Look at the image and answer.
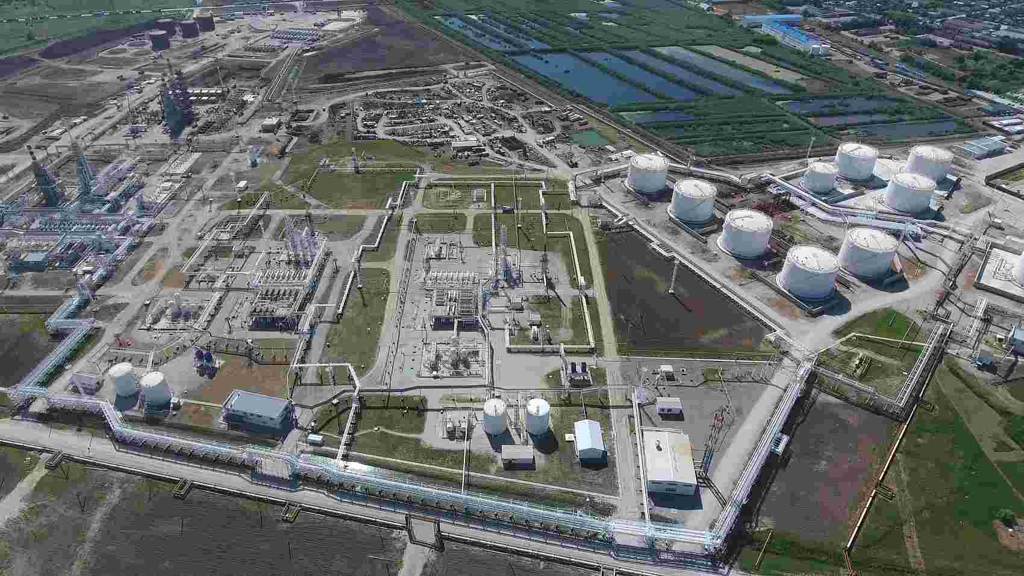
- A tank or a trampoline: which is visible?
tank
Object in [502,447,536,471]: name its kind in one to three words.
shed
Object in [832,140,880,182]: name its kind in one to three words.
storage tank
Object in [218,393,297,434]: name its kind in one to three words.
building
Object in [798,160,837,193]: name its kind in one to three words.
storage tank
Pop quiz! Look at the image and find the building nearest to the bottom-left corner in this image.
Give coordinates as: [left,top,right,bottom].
[65,365,110,395]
